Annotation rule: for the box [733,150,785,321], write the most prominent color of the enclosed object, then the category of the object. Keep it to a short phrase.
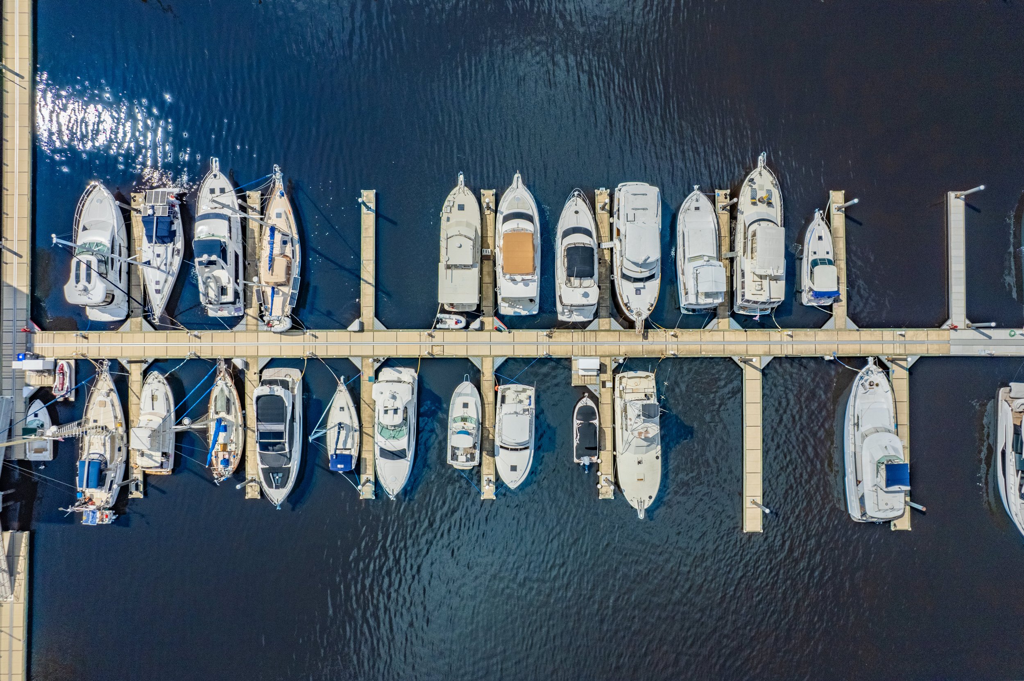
white boat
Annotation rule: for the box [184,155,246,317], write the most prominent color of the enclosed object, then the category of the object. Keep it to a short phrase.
white boat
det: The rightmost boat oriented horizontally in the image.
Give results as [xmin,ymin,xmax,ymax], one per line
[433,314,466,329]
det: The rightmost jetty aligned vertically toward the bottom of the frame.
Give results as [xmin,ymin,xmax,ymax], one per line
[877,356,922,531]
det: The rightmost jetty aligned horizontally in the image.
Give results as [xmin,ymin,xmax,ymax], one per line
[950,328,1024,356]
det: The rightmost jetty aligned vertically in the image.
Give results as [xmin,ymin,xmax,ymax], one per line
[937,191,975,328]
